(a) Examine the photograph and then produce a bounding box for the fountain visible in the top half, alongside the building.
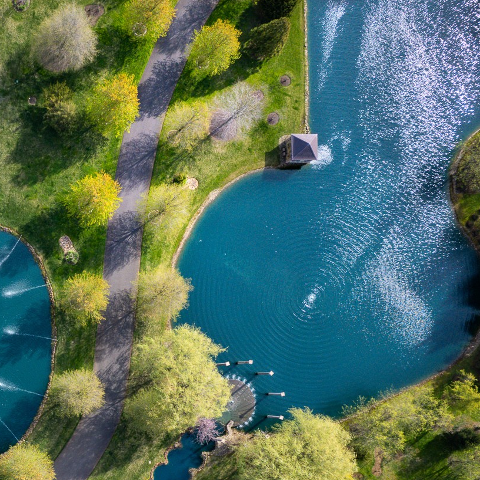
[304,140,338,170]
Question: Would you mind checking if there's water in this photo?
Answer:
Yes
